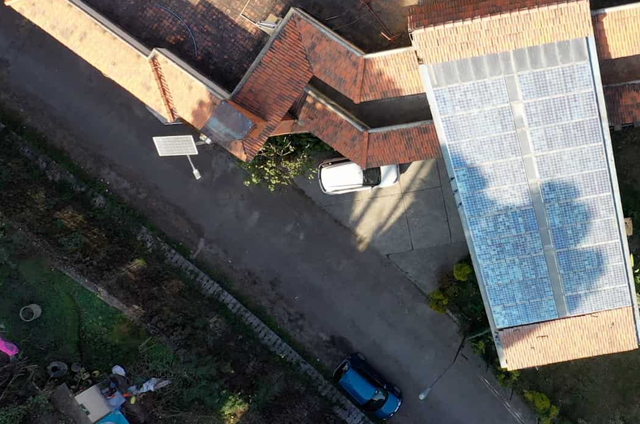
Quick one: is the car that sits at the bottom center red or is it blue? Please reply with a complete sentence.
The color of the car that sits at the bottom center is blue.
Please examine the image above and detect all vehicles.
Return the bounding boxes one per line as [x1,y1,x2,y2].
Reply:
[318,161,399,197]
[334,352,405,423]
